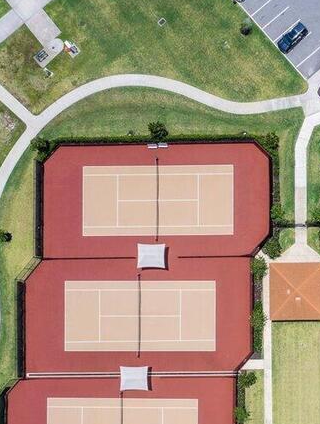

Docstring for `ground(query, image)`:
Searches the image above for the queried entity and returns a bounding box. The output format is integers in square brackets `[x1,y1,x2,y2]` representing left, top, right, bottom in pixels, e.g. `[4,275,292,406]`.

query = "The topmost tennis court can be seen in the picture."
[42,142,268,257]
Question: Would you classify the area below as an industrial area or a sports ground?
sports ground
